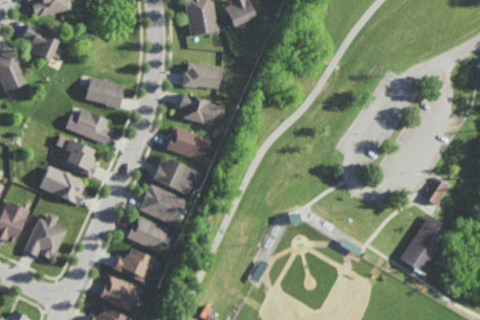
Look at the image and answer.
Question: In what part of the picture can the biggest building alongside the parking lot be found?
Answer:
bottom right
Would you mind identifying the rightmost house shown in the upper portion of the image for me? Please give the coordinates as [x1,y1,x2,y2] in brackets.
[222,0,259,28]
